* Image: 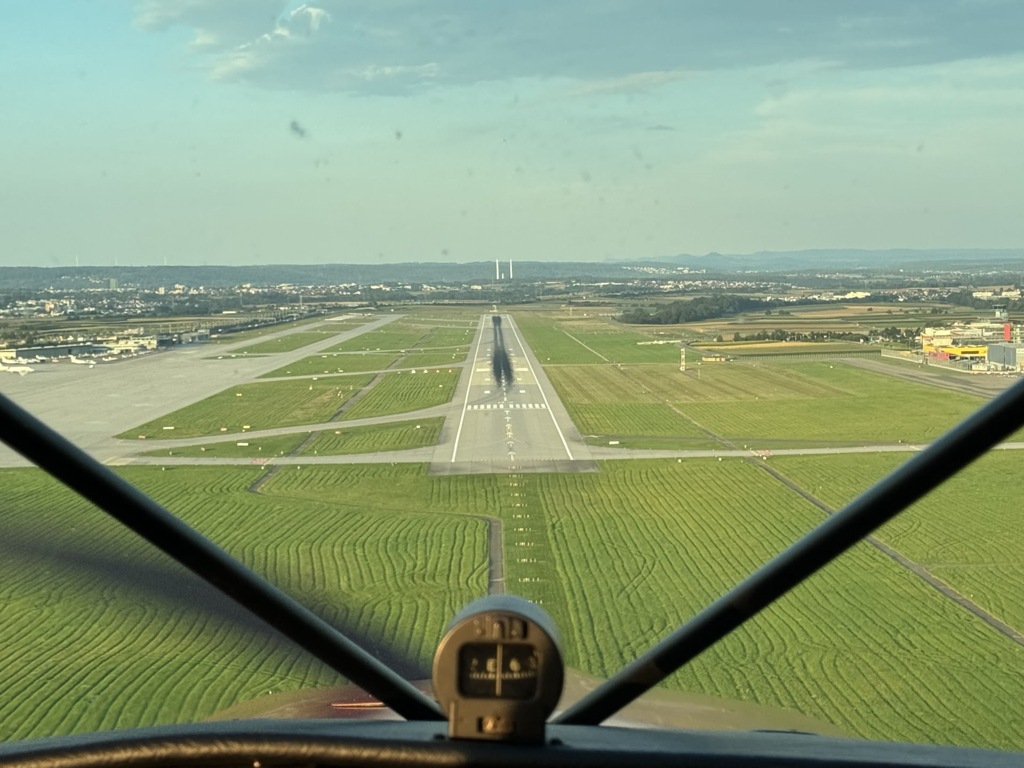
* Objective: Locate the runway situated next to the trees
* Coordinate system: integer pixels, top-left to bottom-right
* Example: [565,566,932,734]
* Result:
[385,317,617,473]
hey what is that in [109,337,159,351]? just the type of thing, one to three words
building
